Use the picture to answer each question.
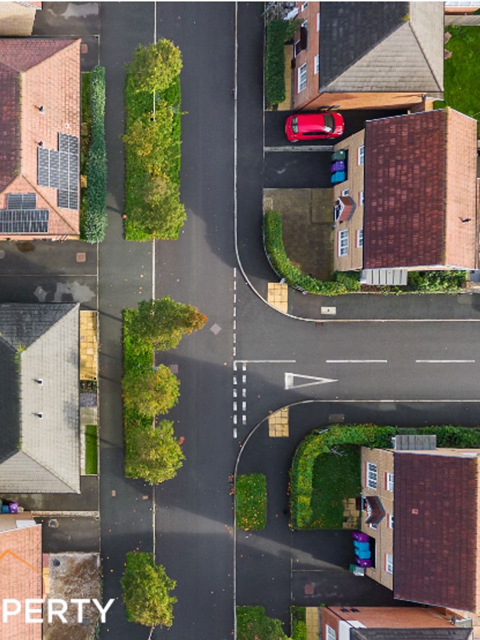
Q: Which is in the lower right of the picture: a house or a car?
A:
house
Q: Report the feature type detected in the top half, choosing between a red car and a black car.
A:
red car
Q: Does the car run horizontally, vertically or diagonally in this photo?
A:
horizontally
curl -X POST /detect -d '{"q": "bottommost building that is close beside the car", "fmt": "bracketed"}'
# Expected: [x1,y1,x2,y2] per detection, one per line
[332,108,480,272]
